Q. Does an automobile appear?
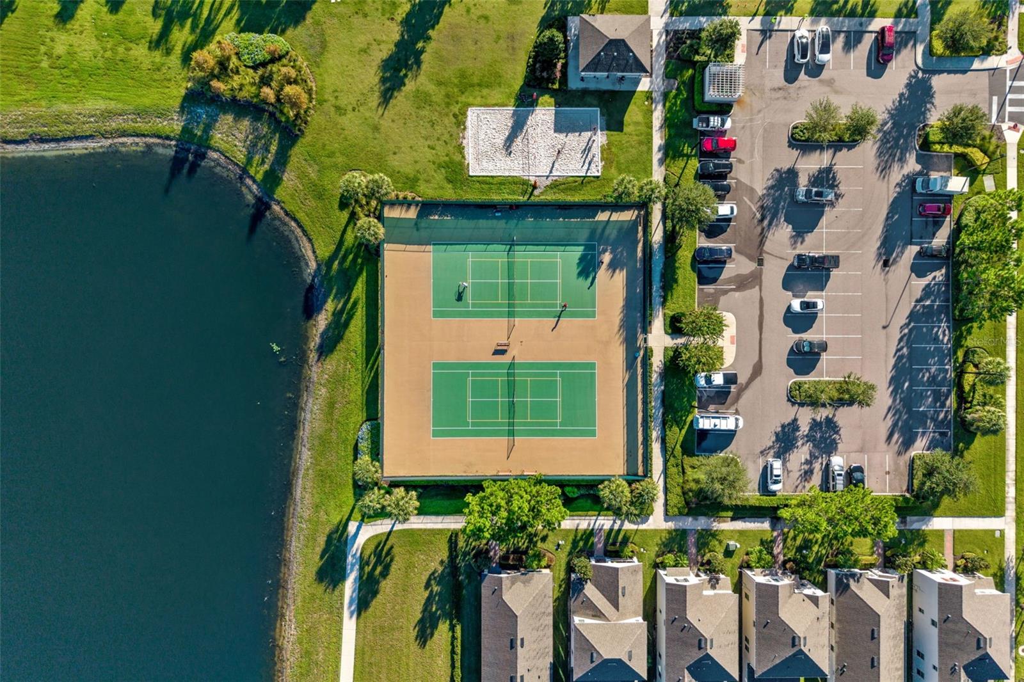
Yes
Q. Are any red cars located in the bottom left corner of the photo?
No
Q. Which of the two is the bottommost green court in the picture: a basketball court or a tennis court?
tennis court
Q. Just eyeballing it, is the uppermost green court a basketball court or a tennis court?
tennis court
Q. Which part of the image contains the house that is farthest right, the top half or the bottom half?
bottom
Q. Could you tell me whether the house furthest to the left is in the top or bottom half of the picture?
bottom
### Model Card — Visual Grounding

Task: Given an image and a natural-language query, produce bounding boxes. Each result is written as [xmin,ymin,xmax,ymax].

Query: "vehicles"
[876,26,895,63]
[690,114,732,131]
[702,136,736,153]
[698,159,732,175]
[793,187,835,204]
[917,201,951,217]
[827,455,846,492]
[792,30,810,64]
[813,28,831,64]
[695,373,737,389]
[911,175,973,196]
[792,253,840,270]
[847,461,865,482]
[792,338,827,355]
[695,245,731,262]
[710,205,737,219]
[765,458,783,492]
[697,180,731,196]
[918,243,949,258]
[693,414,741,431]
[789,298,824,314]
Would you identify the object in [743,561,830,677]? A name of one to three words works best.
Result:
house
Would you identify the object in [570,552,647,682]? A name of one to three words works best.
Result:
house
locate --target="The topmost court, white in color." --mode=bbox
[468,94,602,187]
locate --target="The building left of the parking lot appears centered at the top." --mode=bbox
[579,14,651,81]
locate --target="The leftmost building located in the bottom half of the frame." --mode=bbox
[481,561,553,682]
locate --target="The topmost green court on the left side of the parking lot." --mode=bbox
[432,235,597,325]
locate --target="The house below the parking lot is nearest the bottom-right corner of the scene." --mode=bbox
[914,569,1010,682]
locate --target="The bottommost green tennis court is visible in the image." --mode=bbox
[432,356,597,446]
